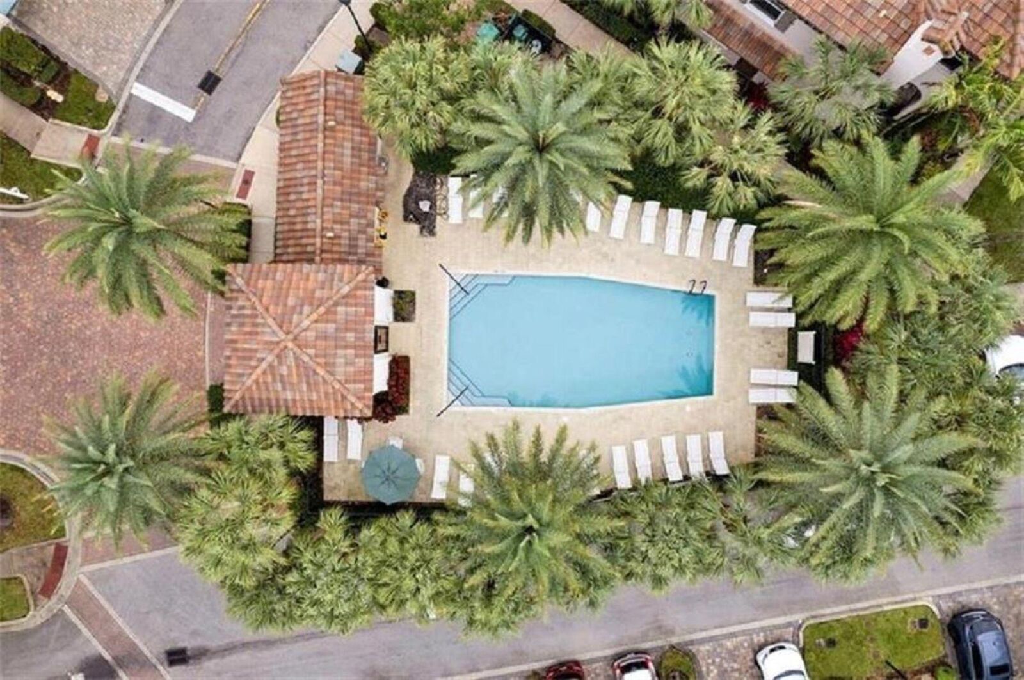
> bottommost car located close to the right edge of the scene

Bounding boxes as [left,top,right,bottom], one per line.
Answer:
[942,606,1015,680]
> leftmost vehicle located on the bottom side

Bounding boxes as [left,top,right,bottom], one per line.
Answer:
[545,656,588,680]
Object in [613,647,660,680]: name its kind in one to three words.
car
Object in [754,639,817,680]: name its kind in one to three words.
car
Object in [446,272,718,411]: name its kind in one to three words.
swimming pool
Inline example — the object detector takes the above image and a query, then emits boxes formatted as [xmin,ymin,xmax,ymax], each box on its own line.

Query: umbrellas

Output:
[359,440,424,506]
